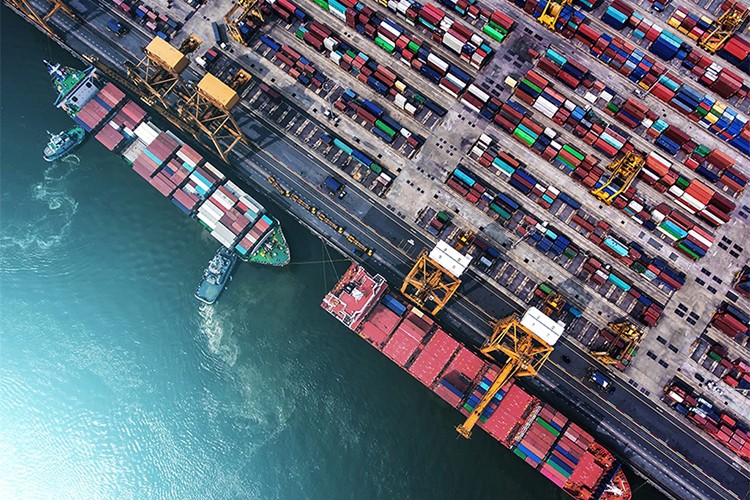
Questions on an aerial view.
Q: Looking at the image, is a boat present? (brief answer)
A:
Yes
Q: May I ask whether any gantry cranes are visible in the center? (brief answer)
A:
Yes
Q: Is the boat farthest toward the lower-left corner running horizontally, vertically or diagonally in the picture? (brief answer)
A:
diagonally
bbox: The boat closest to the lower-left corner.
[194,251,238,306]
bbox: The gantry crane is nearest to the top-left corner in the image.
[15,0,83,43]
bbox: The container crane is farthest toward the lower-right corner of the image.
[590,316,655,371]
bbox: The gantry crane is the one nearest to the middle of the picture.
[396,228,478,319]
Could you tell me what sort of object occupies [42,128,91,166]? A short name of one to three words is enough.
boat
